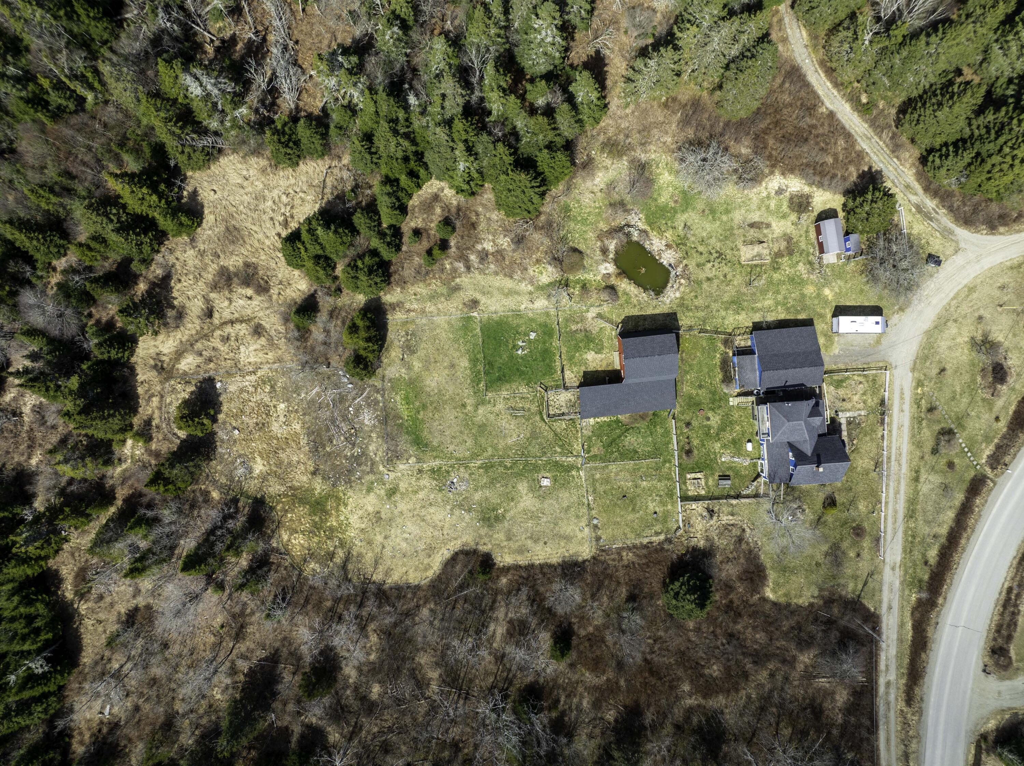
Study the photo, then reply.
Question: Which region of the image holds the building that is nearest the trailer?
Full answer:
The building that is nearest the trailer sits in the right section of the image.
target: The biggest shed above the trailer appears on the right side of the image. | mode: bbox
[814,218,843,256]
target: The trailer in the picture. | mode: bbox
[830,316,883,334]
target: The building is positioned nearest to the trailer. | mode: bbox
[751,327,824,391]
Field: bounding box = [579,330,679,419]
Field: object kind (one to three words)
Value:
barn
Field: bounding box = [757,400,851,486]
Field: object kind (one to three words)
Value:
house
